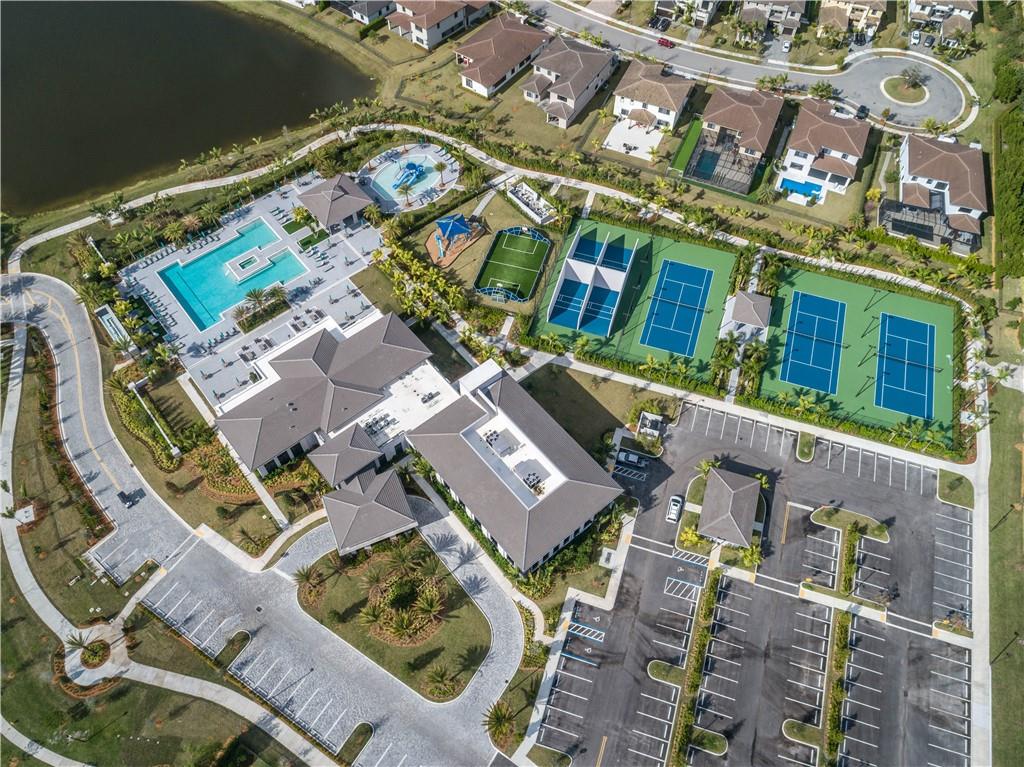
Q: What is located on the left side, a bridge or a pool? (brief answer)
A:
pool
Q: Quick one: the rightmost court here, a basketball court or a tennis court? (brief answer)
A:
tennis court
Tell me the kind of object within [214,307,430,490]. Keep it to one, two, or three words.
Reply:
building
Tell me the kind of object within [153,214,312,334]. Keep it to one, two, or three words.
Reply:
swimming pool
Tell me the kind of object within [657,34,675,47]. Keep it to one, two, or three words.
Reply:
vehicle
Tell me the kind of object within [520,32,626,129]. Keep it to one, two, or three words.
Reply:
house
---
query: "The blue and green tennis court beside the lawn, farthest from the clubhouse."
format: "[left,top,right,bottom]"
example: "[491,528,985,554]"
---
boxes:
[856,285,954,443]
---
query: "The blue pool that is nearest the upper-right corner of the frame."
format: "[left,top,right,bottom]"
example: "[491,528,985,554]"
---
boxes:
[780,177,823,199]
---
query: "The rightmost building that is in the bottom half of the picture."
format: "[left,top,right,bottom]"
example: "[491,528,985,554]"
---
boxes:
[698,467,760,547]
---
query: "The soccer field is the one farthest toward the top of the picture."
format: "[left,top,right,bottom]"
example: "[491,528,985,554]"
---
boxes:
[473,220,552,304]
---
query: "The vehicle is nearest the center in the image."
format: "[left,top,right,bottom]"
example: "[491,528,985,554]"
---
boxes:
[617,450,648,467]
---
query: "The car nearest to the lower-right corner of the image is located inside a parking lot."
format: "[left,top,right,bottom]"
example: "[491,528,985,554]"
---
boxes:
[667,496,683,522]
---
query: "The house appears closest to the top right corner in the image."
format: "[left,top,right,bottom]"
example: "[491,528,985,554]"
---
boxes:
[901,0,977,46]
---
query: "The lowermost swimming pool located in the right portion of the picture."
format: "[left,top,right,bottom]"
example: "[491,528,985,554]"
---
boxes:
[890,217,935,239]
